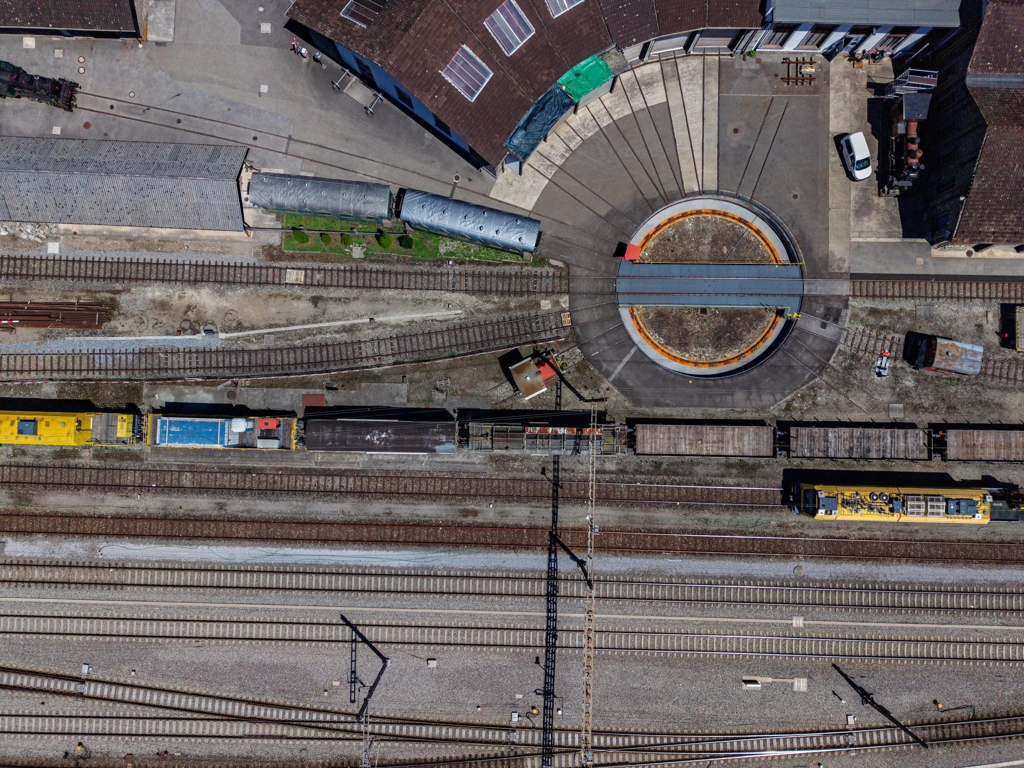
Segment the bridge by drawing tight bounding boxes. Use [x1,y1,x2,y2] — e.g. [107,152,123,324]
[617,235,803,321]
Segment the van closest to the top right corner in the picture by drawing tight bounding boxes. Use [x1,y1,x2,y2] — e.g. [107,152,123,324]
[839,130,873,185]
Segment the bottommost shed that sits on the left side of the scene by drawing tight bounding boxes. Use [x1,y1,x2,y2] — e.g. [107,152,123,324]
[0,136,268,236]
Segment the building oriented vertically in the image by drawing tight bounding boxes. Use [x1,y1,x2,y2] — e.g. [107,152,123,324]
[924,0,1024,245]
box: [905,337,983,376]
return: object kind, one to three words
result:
rail car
